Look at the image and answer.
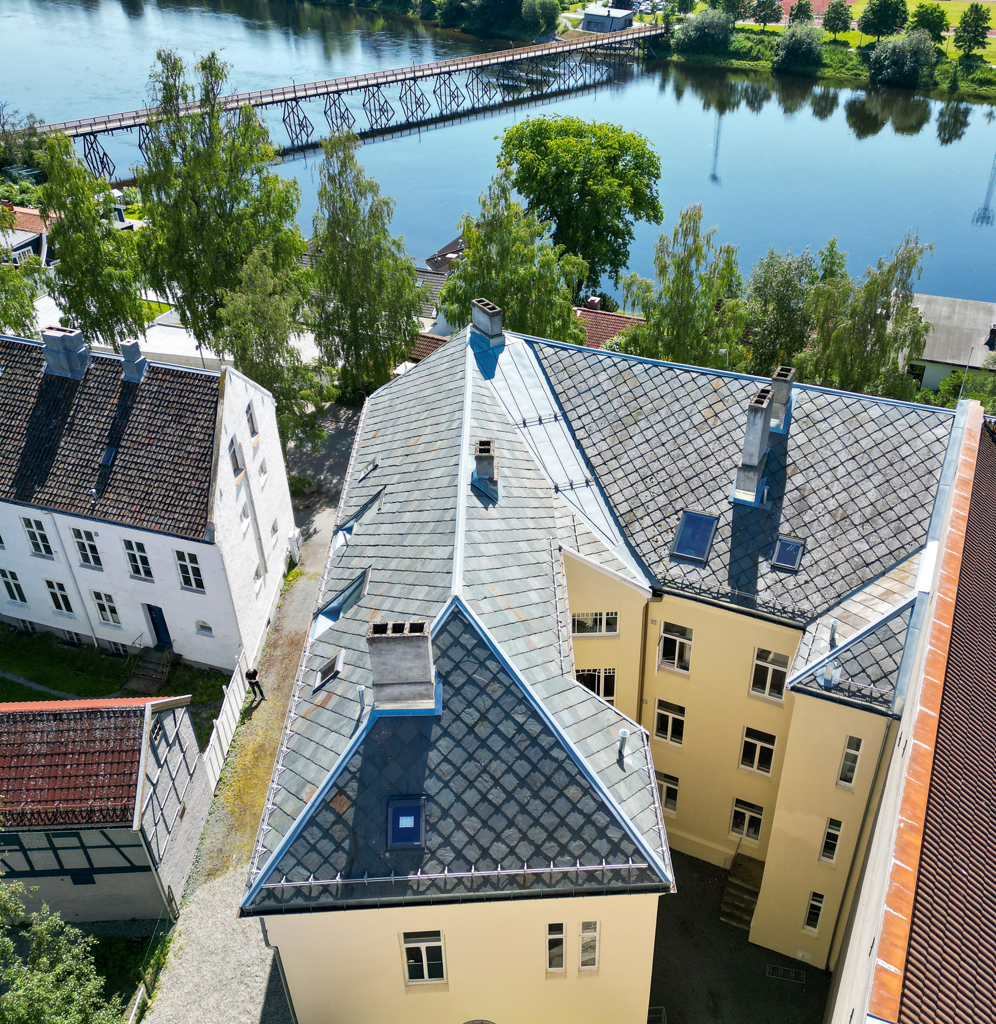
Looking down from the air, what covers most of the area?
buildings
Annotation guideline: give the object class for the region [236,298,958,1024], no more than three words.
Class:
building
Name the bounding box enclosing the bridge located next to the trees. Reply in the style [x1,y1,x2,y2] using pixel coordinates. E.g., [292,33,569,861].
[0,24,665,168]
